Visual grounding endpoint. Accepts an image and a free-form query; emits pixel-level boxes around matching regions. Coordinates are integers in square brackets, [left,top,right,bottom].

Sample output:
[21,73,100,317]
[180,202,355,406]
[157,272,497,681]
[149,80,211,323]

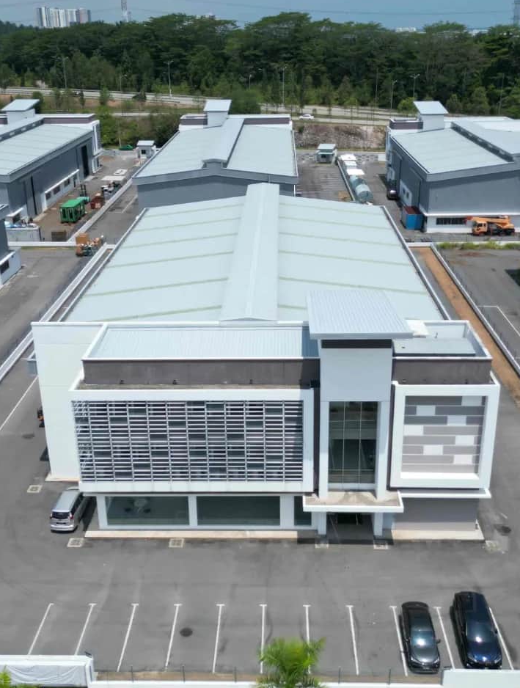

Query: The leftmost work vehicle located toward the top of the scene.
[73,230,98,255]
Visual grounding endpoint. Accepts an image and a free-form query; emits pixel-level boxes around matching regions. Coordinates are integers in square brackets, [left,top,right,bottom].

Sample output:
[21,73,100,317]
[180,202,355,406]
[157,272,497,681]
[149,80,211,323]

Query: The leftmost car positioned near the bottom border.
[397,598,443,667]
